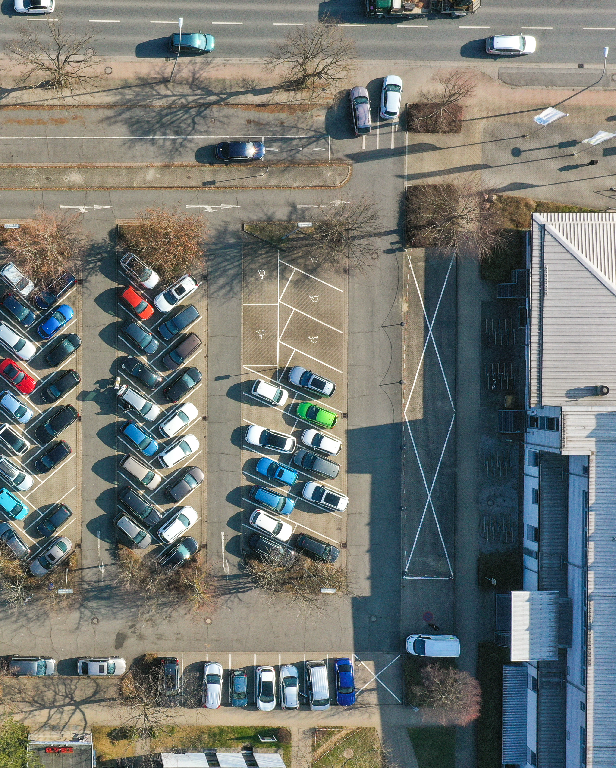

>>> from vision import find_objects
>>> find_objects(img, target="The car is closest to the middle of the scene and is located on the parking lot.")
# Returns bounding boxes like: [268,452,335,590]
[286,364,338,399]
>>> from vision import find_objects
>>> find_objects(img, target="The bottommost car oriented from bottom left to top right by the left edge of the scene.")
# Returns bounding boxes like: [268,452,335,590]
[29,536,72,576]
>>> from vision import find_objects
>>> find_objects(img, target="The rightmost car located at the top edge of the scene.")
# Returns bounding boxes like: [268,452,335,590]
[484,32,536,56]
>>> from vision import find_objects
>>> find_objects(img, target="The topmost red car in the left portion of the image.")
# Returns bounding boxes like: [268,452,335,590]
[119,285,153,320]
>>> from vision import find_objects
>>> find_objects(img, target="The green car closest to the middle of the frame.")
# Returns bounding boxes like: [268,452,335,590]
[296,401,338,430]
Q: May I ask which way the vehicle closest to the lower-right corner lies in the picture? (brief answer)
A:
from side to side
